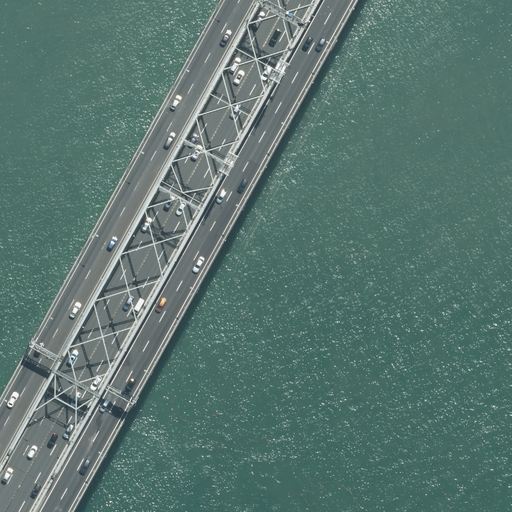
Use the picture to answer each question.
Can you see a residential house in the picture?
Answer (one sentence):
No, I find no residential house anywhere in the image.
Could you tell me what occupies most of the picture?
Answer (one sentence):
For the most part, this view shows water.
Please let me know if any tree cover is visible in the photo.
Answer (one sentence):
No, there is no tree cover in the image.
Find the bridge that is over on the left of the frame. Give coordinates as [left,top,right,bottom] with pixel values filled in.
[0,0,358,512]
